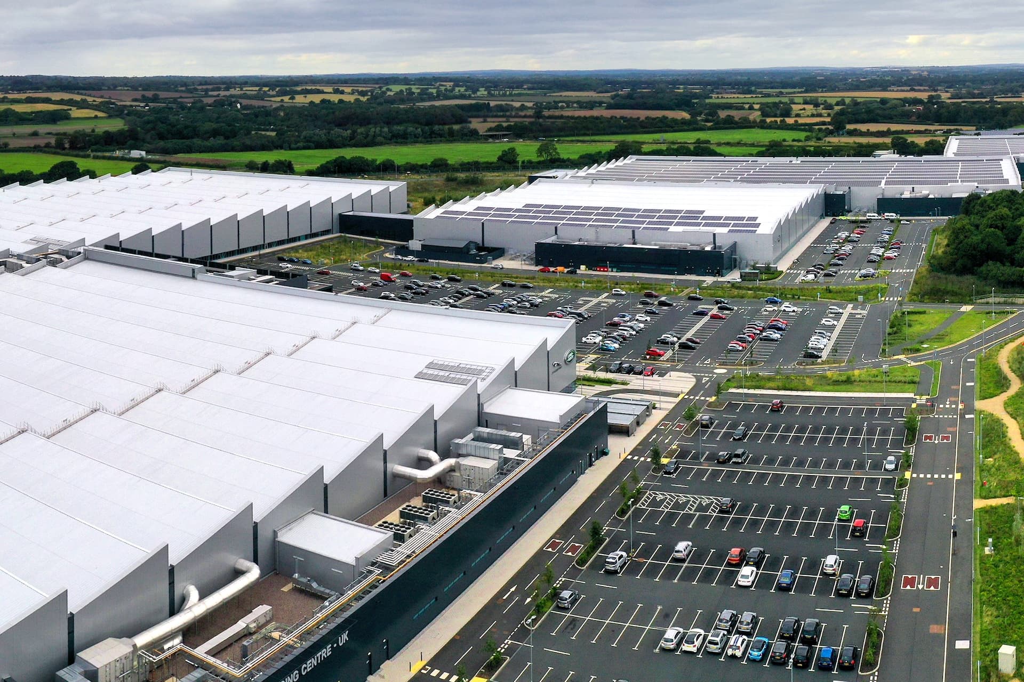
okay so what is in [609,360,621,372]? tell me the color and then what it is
gray vehicle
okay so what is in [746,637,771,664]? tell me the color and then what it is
blue car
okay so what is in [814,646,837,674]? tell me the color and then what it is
blue car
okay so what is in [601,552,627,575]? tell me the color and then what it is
gray car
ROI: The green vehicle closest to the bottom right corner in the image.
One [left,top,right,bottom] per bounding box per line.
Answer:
[836,506,853,522]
